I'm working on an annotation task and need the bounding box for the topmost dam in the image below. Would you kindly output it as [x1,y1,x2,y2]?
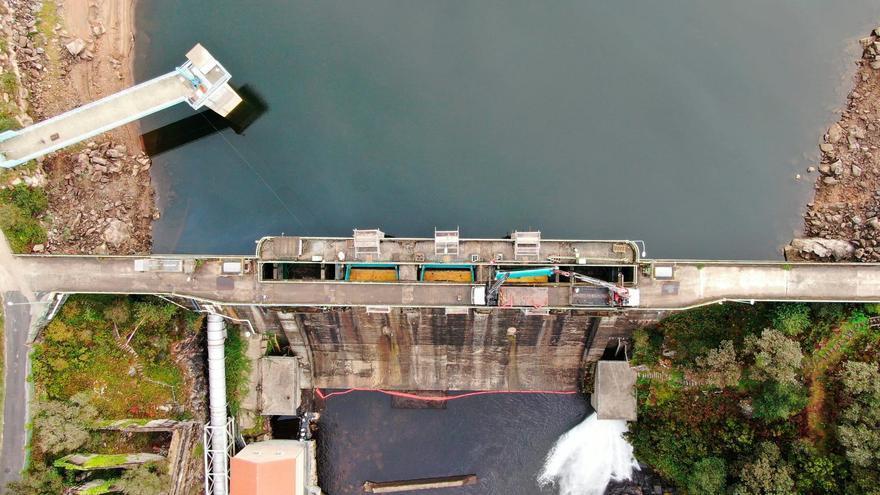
[34,238,880,410]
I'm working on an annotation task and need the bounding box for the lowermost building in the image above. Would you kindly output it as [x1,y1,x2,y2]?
[229,439,306,495]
